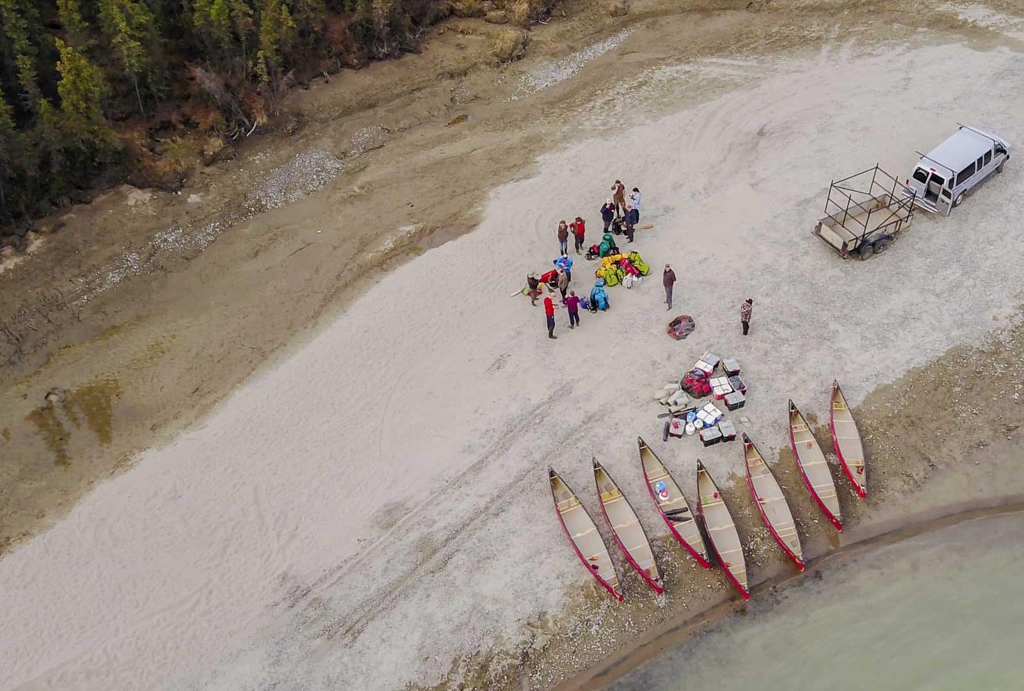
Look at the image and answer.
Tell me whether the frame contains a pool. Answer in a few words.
No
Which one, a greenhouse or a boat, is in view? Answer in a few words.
boat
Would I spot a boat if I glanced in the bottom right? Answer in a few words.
Yes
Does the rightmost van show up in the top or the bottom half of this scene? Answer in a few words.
top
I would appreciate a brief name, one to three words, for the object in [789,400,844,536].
boat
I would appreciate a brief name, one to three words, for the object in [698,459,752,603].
boat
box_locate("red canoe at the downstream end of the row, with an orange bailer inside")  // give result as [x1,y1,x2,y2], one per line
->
[550,465,624,604]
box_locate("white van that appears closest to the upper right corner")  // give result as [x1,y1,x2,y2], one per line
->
[898,121,1017,215]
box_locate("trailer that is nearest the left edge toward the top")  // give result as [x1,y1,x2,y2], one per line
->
[809,162,921,260]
